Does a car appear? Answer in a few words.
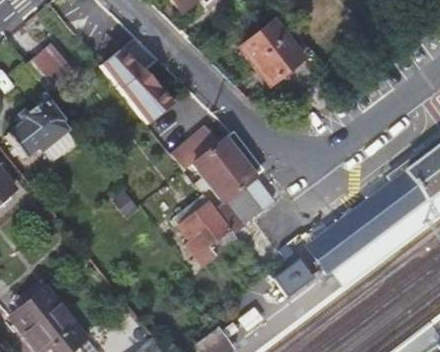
Yes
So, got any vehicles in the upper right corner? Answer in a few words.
Yes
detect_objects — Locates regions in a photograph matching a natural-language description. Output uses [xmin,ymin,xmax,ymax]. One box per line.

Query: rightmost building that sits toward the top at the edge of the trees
[242,18,312,89]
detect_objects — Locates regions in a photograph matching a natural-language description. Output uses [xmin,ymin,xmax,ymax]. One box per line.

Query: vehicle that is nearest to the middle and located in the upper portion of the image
[166,125,187,146]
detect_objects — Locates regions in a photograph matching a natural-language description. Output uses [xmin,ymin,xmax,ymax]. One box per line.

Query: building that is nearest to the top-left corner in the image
[29,42,70,82]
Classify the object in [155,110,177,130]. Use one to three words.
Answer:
car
